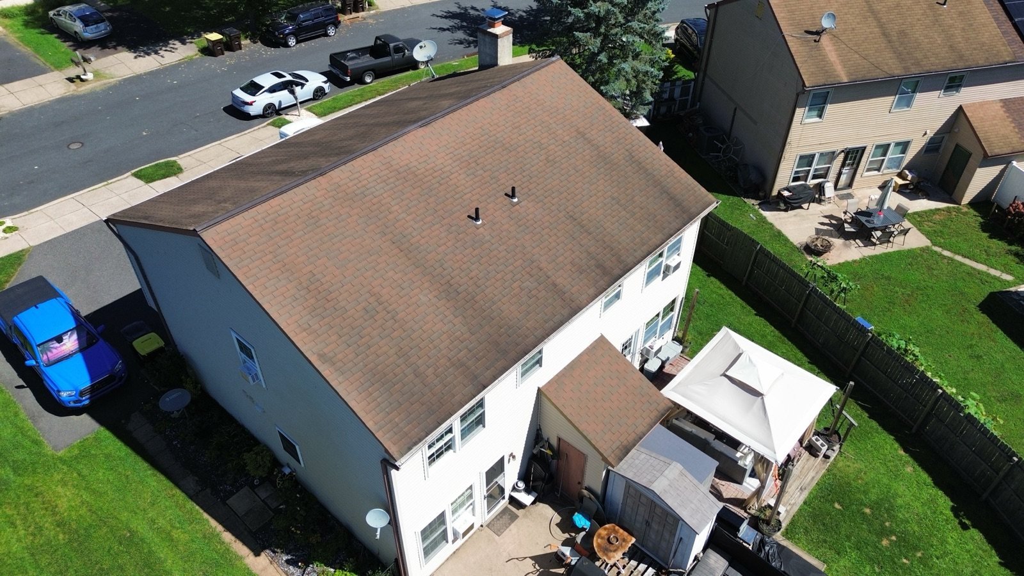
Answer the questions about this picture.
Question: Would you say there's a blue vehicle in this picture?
Yes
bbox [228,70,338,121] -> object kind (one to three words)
car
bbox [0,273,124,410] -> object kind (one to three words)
truck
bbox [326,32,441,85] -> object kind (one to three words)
truck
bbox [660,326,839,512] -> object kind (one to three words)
gazebo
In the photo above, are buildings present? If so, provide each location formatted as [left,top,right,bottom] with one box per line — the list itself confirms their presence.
[104,12,721,576]
[694,0,1024,203]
